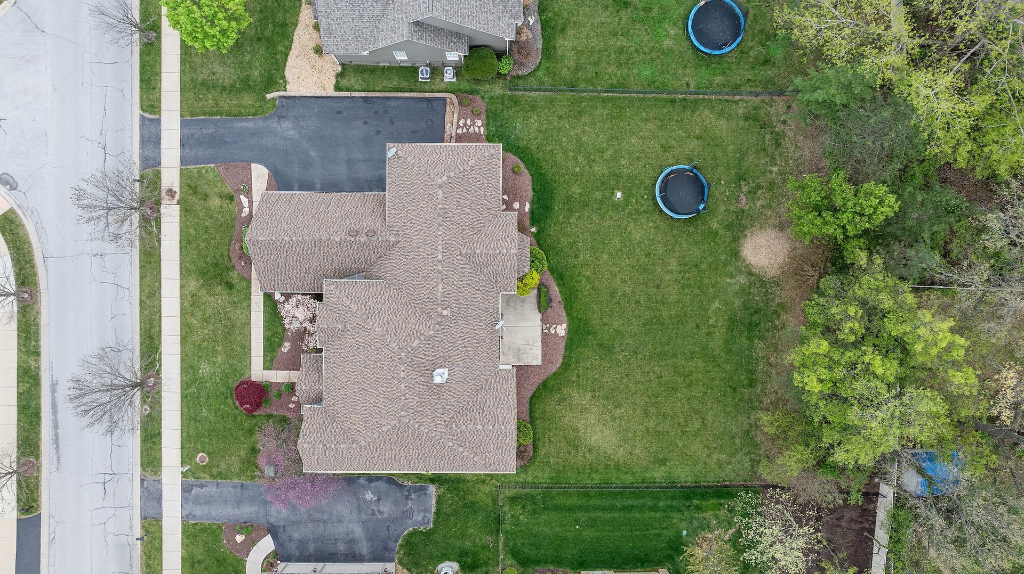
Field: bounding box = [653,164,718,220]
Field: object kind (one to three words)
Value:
trampoline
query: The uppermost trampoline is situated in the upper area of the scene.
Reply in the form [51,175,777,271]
[685,0,750,58]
